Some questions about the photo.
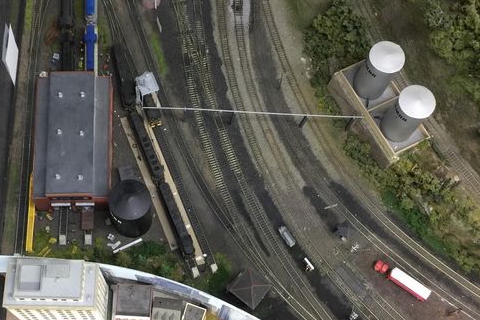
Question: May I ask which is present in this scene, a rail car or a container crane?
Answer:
rail car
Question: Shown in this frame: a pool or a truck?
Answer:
truck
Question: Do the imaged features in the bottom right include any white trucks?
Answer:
Yes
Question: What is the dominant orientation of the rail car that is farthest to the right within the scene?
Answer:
at an angle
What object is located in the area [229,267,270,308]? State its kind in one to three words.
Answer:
shed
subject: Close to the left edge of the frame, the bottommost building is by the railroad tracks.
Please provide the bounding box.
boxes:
[3,257,111,320]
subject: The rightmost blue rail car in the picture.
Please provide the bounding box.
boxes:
[83,25,98,70]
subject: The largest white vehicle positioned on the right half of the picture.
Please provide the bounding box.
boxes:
[371,260,433,302]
